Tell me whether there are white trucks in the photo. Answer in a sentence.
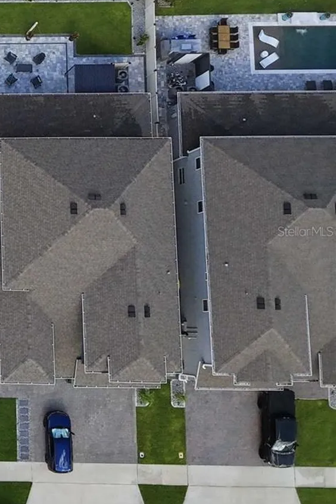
No, the photo shows no white truck.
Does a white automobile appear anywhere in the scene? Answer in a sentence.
No, I can't see a single white automobile in this photo.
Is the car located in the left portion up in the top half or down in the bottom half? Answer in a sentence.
The bottom half of the photo is where the car located in the left portion is.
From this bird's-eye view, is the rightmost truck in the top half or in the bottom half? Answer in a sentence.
You can find the rightmost truck in the bottom half.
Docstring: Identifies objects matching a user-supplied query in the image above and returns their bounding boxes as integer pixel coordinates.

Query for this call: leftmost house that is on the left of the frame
[0,90,183,389]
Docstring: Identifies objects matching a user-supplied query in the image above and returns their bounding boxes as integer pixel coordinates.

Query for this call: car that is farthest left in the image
[42,409,76,475]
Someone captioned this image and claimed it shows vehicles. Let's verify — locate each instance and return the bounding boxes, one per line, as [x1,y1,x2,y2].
[259,388,299,468]
[42,409,76,475]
